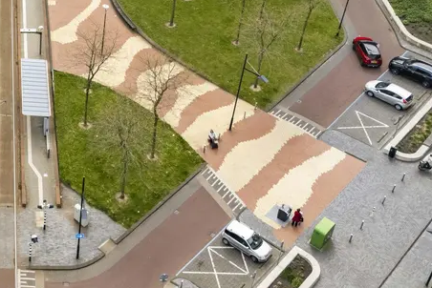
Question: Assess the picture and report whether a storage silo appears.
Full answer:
No, there appears to be no storage silo in this shot.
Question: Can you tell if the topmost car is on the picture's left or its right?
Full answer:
You can find the topmost car on the right side of the picture.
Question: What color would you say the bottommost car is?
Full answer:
From above, the bottommost car appears white.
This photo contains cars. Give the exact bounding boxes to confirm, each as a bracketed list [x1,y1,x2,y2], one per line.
[365,79,417,108]
[220,214,278,266]
[388,56,432,86]
[350,36,384,65]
